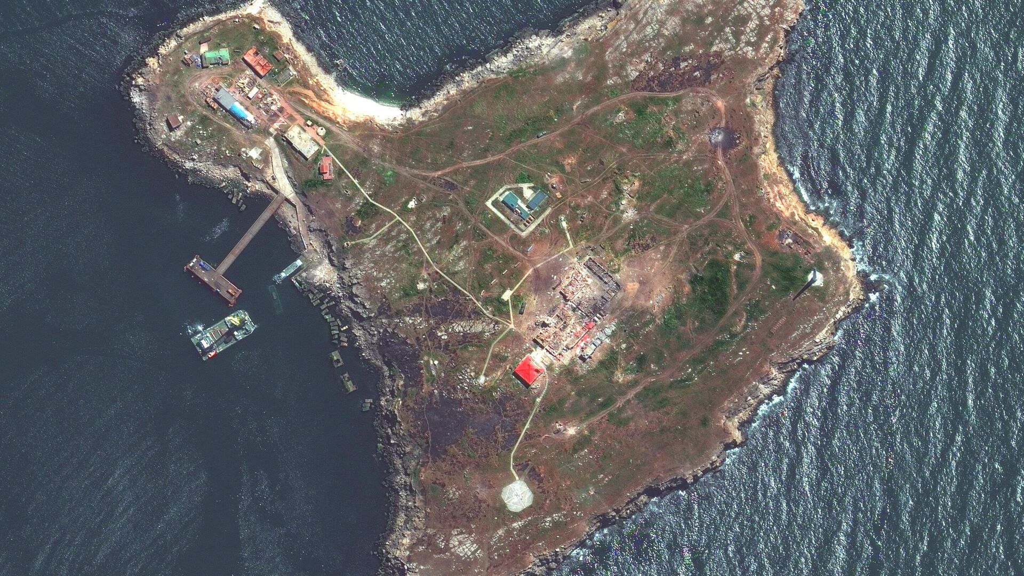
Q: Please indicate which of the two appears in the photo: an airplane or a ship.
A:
ship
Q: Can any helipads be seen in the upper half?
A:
No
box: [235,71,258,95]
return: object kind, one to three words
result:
house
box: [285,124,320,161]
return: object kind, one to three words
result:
building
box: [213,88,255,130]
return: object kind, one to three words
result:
building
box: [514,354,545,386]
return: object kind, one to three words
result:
house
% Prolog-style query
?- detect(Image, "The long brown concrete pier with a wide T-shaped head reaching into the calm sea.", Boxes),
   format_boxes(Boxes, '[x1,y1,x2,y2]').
[184,196,281,307]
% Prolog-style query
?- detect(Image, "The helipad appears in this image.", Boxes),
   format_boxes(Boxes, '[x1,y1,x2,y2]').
[501,480,534,512]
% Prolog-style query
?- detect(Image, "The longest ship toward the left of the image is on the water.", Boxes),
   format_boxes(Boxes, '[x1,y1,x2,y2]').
[191,310,255,360]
